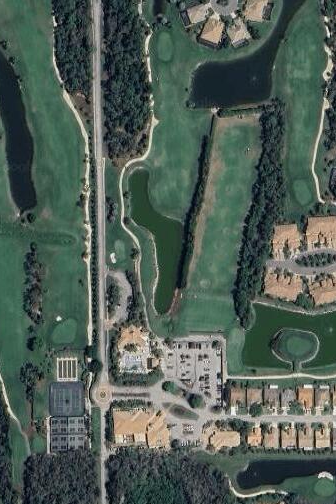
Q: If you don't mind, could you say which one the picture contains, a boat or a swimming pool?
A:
swimming pool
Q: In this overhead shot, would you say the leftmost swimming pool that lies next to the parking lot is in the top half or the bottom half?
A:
bottom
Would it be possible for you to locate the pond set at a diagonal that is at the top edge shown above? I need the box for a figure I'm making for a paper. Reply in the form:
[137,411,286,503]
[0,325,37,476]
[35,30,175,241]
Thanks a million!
[189,0,305,108]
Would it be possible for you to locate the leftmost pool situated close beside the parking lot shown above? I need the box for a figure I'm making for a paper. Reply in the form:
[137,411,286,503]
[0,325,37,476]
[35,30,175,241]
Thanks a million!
[120,348,149,373]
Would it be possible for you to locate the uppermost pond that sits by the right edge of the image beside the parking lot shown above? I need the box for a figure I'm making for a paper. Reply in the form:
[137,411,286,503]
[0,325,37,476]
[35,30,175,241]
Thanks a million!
[242,304,336,368]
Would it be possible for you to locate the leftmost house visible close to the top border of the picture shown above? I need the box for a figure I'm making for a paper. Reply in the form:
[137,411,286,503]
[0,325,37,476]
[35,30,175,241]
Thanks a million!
[184,3,211,23]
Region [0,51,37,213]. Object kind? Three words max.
pond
